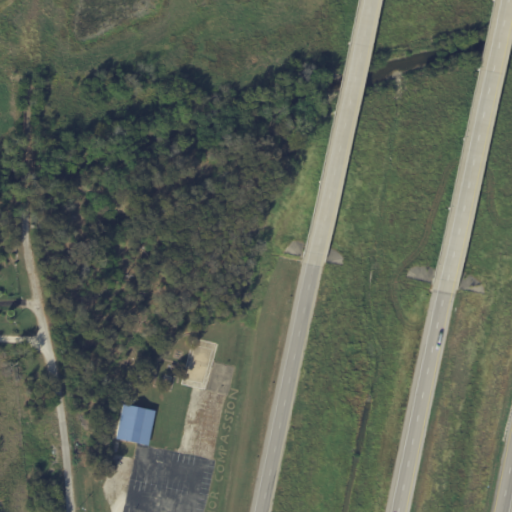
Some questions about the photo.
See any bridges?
Yes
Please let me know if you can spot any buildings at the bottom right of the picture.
No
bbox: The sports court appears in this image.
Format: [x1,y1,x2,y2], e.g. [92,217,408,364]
[182,339,216,390]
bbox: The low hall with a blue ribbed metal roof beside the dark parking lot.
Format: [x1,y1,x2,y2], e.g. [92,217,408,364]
[114,405,156,446]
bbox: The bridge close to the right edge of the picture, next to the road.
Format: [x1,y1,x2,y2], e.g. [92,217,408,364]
[408,0,512,295]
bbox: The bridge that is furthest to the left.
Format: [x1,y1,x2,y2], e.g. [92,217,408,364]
[286,0,384,268]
